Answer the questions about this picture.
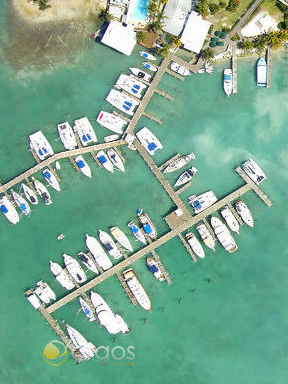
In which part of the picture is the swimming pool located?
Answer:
top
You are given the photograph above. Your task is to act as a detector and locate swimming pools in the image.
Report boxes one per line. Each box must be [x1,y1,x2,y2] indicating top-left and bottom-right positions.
[127,0,151,28]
